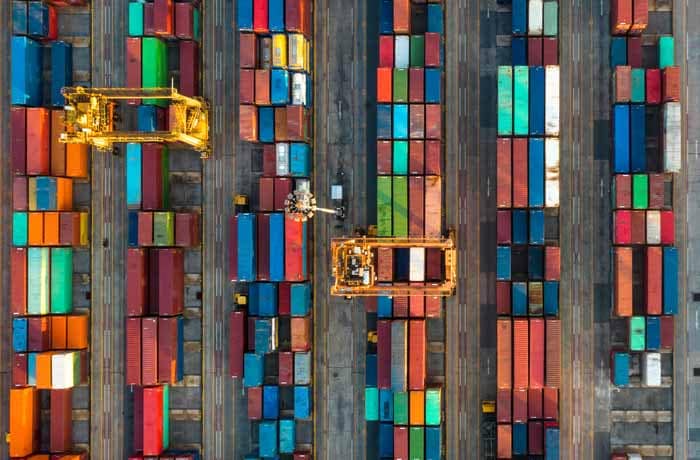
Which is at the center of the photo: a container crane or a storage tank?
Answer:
container crane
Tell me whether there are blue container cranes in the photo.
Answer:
No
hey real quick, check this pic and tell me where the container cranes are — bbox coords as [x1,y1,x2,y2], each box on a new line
[333,224,457,298]
[58,72,209,159]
